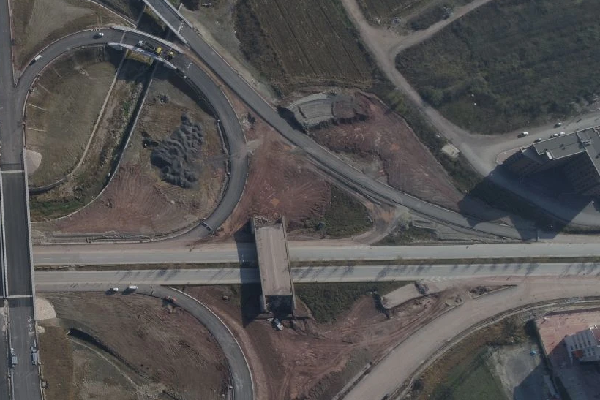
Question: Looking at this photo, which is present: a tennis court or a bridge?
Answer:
bridge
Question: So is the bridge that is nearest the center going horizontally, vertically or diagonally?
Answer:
vertically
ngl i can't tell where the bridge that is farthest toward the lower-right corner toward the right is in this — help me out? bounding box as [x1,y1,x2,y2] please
[379,282,425,309]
